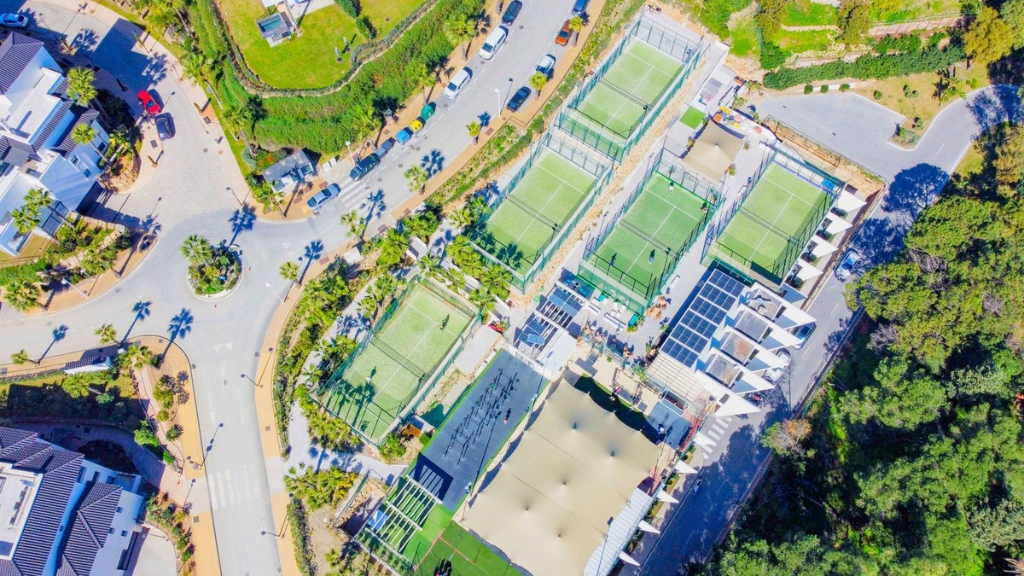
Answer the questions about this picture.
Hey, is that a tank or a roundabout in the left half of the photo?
roundabout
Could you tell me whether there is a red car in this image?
Yes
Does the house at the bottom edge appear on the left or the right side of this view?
left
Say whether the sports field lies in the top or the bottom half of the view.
bottom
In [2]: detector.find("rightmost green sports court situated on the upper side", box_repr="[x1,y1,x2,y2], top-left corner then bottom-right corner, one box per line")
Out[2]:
[701,144,851,298]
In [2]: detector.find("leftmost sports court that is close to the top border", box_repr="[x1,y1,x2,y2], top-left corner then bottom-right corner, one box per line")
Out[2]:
[563,18,700,163]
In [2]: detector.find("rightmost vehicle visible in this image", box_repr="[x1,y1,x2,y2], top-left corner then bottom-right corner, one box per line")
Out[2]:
[835,250,863,282]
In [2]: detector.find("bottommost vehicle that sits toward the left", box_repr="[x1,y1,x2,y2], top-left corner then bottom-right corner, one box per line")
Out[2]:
[307,185,342,209]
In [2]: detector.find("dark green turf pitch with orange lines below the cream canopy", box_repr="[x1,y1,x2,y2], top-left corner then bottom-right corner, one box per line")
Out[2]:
[415,519,531,576]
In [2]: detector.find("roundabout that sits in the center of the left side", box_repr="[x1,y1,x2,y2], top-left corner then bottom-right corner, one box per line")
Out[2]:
[185,247,243,299]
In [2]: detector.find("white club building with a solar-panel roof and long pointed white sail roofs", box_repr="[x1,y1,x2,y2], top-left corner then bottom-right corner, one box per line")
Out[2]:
[656,268,815,418]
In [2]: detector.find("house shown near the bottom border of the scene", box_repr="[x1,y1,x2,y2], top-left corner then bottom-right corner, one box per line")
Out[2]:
[0,426,153,576]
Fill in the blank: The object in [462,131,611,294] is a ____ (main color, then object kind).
green sports court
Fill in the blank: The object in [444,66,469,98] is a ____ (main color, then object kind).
white vehicle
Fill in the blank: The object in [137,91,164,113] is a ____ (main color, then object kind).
red car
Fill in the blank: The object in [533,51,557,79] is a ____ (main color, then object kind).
white car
